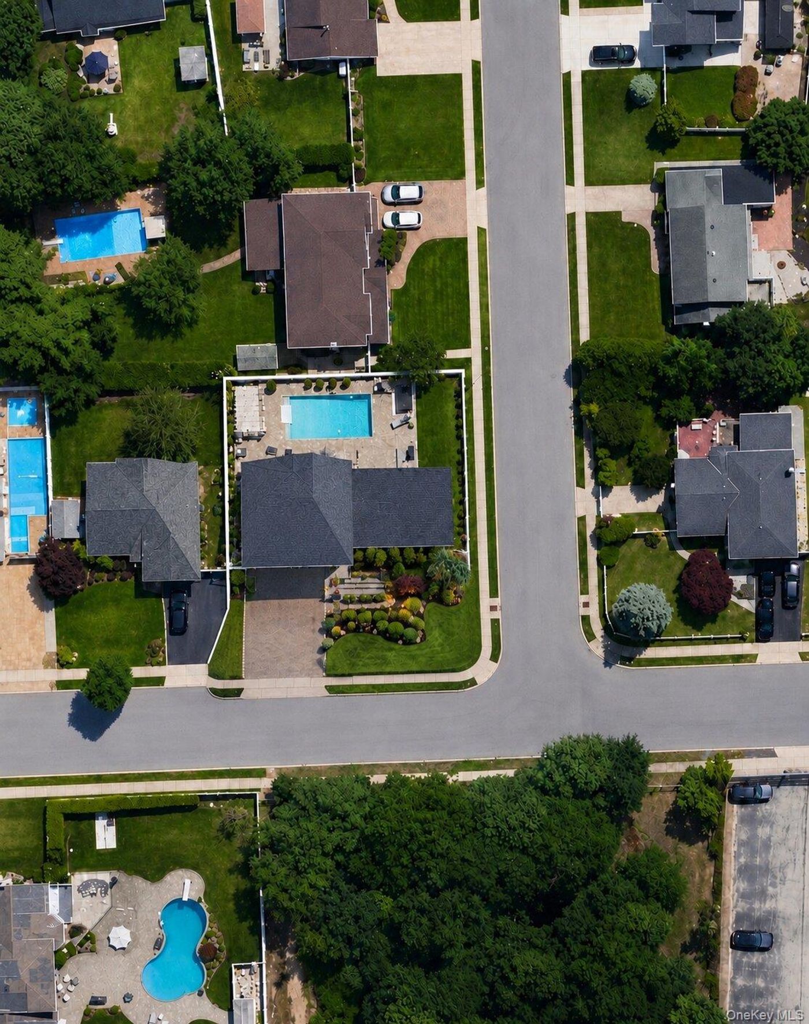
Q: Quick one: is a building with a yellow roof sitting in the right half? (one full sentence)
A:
No, there is no building with a yellow roof in the right half.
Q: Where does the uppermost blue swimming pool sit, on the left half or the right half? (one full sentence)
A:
The uppermost blue swimming pool sits on the left side.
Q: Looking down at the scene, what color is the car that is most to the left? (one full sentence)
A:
The car that is most to the left is black.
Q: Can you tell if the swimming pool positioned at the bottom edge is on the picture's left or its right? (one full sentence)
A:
The swimming pool positioned at the bottom edge is on the left side of the image.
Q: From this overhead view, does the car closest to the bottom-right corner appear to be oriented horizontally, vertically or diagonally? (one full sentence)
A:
I'd say the car closest to the bottom-right corner is aligned horizontally in the picture.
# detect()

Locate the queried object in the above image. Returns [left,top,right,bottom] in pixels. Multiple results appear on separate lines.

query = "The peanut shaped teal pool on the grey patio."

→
[139,895,209,1004]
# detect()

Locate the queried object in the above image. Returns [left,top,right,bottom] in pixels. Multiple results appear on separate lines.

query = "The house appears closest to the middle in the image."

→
[240,452,454,568]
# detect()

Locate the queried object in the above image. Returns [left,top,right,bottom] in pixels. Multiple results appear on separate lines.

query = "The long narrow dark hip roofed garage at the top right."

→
[765,0,795,50]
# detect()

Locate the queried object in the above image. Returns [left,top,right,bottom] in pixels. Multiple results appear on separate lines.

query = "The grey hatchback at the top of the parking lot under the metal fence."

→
[729,783,774,805]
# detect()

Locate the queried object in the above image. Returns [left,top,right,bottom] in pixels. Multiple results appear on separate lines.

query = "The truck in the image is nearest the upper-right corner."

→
[591,42,637,64]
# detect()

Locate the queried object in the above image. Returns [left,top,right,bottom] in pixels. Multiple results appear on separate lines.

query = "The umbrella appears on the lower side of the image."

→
[108,925,131,948]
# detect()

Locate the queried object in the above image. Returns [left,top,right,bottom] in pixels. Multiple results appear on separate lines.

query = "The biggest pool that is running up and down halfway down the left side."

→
[6,436,47,555]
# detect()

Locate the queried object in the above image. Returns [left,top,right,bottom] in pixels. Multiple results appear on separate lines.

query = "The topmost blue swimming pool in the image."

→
[52,206,148,265]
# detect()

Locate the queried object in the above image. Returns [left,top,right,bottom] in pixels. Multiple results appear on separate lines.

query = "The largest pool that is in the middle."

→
[281,392,375,441]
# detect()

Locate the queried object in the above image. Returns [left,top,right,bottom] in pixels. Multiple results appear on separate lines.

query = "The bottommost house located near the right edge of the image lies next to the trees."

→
[665,412,803,560]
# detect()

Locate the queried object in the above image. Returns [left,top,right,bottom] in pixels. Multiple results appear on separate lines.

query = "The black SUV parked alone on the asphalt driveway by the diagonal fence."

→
[167,588,189,634]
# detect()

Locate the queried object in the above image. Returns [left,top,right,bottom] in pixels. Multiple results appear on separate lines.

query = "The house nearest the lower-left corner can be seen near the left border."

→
[0,882,73,1024]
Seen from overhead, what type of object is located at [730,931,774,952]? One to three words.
car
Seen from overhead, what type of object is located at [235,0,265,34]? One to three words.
building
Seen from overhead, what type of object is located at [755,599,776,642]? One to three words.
car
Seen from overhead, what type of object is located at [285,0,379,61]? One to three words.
house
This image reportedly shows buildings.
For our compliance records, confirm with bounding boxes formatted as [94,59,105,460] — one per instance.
[85,457,201,582]
[235,0,265,34]
[665,164,776,329]
[243,192,390,350]
[51,500,80,539]
[665,412,803,560]
[38,0,193,37]
[232,998,256,1024]
[765,0,795,50]
[0,882,73,1024]
[240,452,454,568]
[651,0,745,49]
[236,343,278,371]
[285,0,379,61]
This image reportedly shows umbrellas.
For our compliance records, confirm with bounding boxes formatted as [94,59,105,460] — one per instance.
[84,51,109,75]
[108,925,131,948]
[381,380,392,392]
